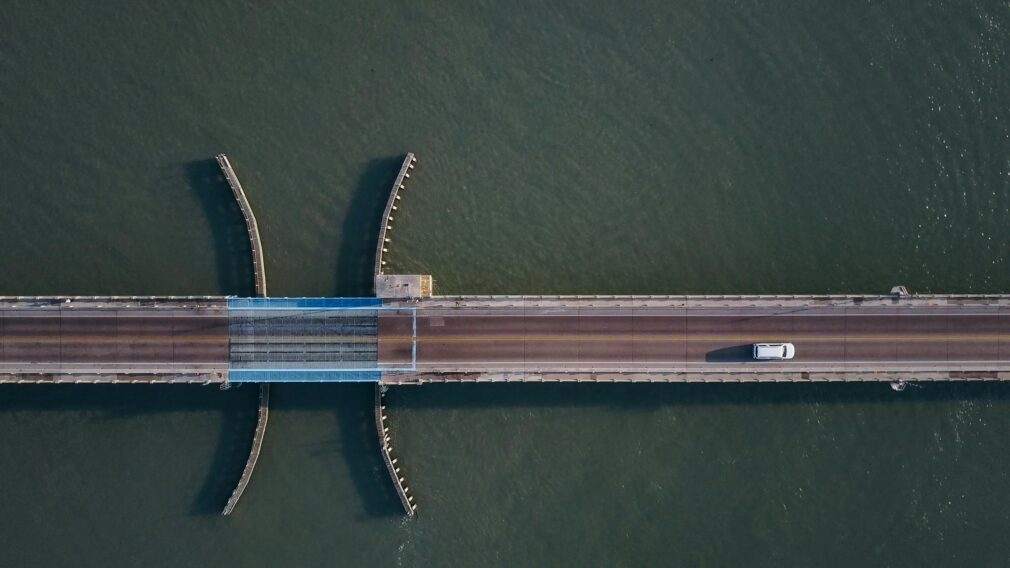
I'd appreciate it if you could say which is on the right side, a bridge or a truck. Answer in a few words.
bridge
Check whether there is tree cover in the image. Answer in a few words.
No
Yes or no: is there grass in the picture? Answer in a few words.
No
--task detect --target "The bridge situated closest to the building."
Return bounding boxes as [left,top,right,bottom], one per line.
[416,286,1010,390]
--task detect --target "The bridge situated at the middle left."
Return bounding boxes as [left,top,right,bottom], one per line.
[0,296,232,384]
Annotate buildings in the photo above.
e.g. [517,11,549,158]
[376,275,433,296]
